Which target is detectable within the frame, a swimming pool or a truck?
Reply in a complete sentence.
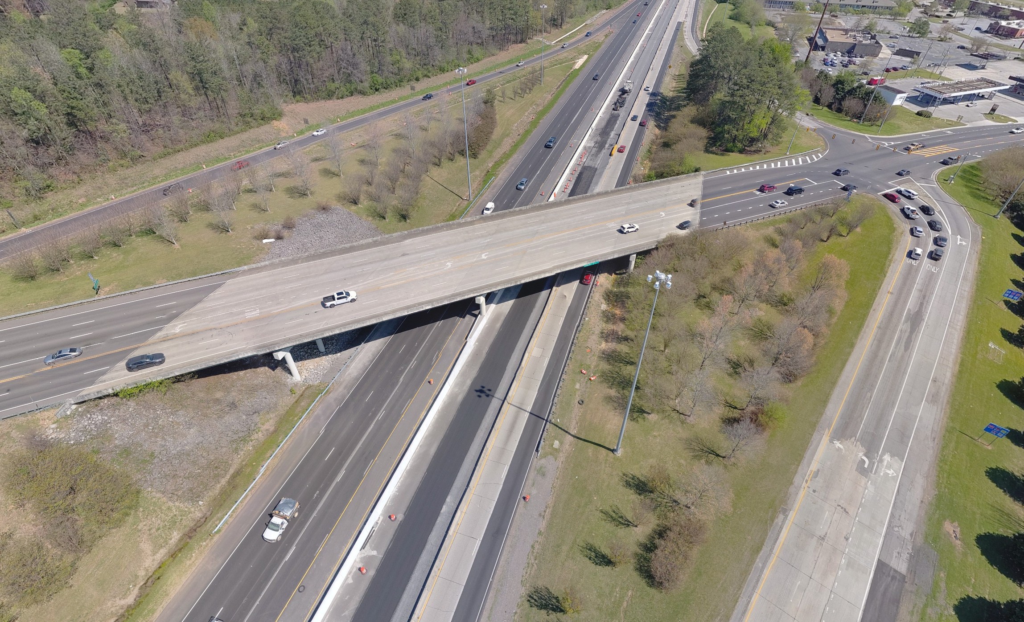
I can see a truck in this picture.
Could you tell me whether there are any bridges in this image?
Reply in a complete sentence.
Yes, looking at the shot, I can spot a bridge.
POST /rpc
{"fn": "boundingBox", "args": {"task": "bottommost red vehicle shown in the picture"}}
[581,271,594,286]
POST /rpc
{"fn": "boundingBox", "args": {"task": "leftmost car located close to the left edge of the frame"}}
[39,347,83,366]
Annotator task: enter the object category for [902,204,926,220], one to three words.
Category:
vehicle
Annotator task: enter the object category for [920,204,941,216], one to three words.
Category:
vehicle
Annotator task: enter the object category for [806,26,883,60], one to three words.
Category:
building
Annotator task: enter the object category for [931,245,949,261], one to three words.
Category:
car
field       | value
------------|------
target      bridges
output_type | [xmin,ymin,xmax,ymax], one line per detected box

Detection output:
[64,172,712,404]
